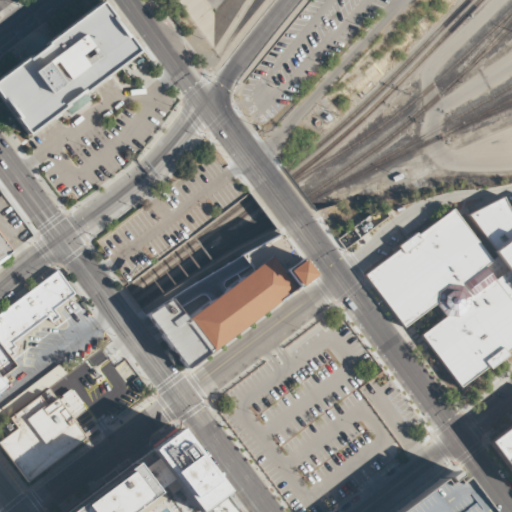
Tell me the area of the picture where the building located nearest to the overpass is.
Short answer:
center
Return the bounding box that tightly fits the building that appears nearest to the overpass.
[152,236,322,366]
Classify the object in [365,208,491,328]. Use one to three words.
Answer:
building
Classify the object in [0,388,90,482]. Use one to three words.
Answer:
building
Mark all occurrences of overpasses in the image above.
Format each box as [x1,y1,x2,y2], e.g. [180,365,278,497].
[245,161,320,228]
